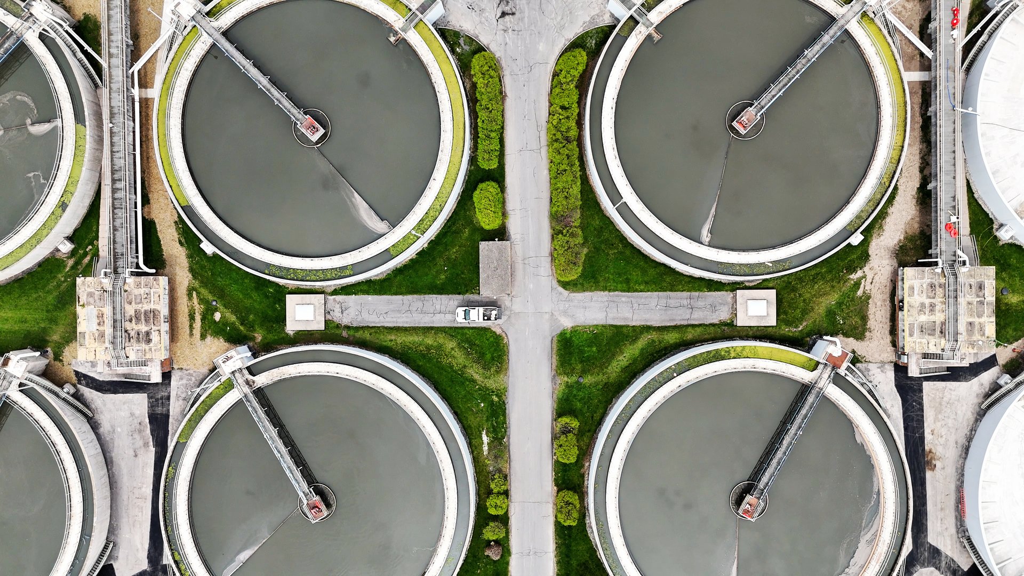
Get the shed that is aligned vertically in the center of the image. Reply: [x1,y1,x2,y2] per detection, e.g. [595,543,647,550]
[480,237,510,299]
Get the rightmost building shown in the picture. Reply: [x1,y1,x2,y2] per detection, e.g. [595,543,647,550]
[895,266,995,366]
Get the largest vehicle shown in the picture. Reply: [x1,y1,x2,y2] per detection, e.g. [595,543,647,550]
[456,306,501,323]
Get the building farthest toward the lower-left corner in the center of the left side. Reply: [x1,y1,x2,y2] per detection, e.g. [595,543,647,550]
[77,276,174,372]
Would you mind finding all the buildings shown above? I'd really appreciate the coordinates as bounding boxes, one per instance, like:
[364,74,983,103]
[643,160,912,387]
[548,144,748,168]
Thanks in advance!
[895,266,995,366]
[480,237,510,299]
[77,276,174,372]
